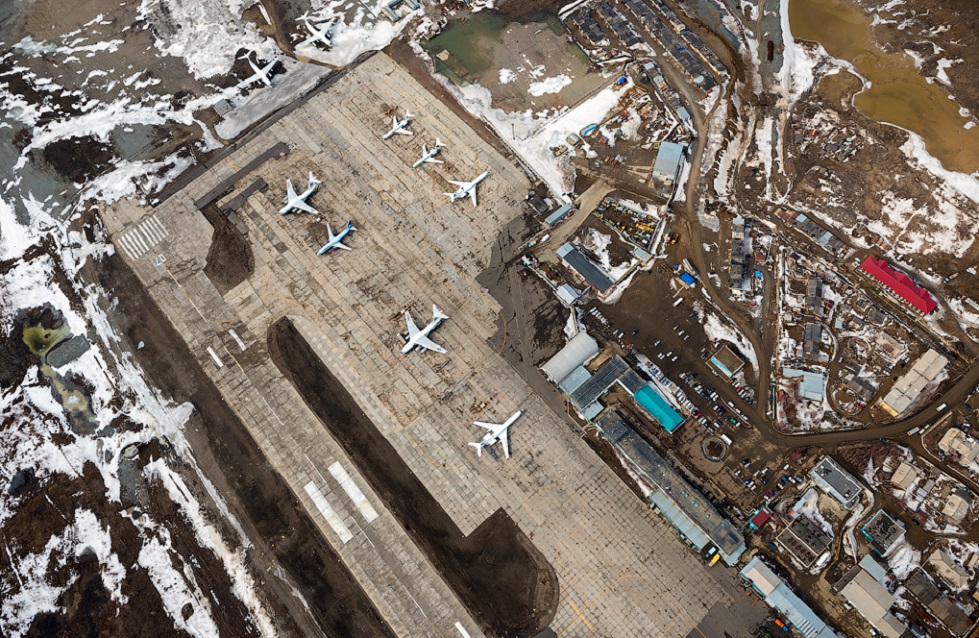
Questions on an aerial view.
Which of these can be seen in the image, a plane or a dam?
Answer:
plane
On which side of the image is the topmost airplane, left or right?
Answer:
left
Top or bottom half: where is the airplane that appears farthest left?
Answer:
top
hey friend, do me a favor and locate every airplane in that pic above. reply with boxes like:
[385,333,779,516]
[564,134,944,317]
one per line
[383,108,418,139]
[295,12,337,45]
[468,409,524,458]
[236,52,280,86]
[402,300,453,353]
[279,172,329,217]
[317,223,359,255]
[413,137,450,167]
[443,171,490,207]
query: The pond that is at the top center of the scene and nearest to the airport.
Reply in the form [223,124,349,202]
[420,8,512,87]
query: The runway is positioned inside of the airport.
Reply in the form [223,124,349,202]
[112,204,485,638]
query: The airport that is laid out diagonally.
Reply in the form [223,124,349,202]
[100,50,789,638]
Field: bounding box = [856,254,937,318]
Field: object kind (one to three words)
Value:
building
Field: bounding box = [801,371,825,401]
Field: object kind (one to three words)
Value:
house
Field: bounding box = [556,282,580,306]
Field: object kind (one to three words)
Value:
shed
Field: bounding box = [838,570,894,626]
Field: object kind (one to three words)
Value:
barn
